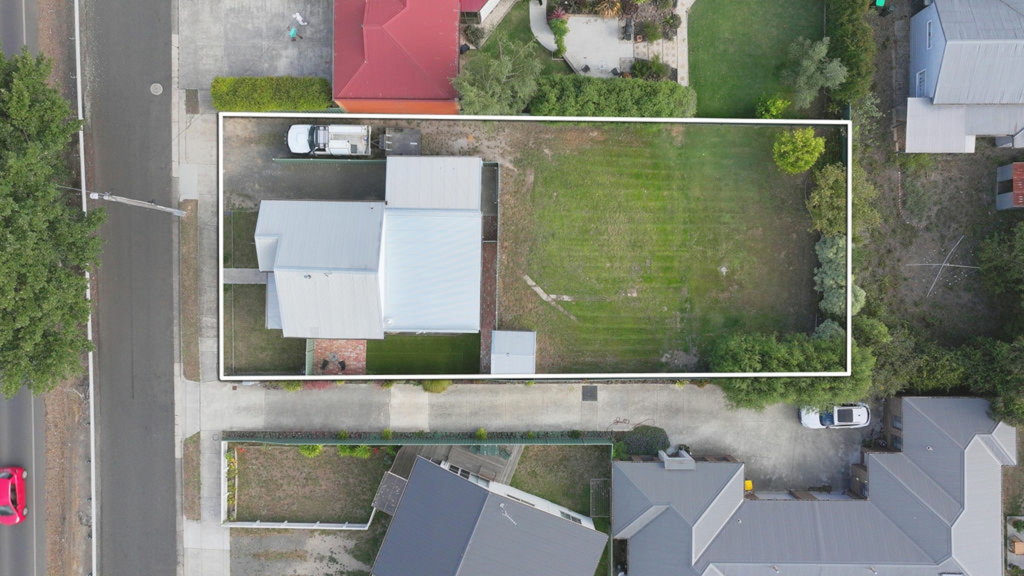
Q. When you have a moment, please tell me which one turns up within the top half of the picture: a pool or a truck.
truck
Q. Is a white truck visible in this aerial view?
Yes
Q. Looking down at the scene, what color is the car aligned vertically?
red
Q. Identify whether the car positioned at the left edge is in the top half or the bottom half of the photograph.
bottom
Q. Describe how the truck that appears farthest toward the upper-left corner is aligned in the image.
from side to side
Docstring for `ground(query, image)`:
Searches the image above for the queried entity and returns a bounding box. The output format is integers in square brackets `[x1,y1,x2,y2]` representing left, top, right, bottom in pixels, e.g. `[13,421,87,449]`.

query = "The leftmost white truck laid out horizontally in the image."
[287,120,369,156]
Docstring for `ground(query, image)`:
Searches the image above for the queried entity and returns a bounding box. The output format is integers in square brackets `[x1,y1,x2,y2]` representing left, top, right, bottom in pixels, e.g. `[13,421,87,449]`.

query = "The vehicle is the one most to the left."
[0,468,29,528]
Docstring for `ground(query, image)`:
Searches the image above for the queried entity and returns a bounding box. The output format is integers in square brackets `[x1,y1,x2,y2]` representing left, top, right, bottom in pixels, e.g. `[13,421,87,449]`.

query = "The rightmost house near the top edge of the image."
[897,0,1024,154]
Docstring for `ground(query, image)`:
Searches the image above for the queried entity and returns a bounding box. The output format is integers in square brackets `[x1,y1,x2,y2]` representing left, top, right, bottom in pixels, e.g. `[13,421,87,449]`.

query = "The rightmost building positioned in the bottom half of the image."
[610,393,1018,576]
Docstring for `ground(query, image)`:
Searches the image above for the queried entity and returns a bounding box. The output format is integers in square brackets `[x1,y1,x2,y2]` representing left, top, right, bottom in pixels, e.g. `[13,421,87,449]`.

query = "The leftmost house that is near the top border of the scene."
[332,0,463,114]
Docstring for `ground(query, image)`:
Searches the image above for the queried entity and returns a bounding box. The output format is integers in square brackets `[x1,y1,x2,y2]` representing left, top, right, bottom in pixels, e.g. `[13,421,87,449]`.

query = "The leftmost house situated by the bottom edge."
[365,450,610,576]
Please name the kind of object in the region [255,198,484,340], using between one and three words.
house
